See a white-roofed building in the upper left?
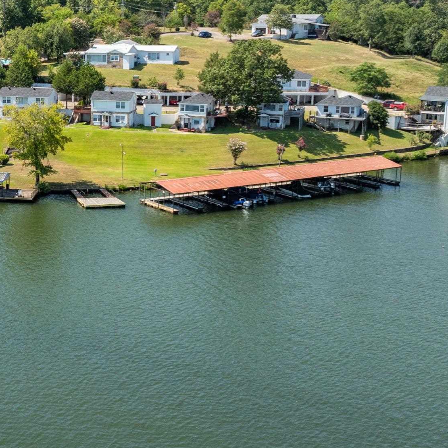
Yes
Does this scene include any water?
Yes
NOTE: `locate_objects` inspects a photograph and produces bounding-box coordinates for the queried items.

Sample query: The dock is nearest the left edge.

[67,187,125,209]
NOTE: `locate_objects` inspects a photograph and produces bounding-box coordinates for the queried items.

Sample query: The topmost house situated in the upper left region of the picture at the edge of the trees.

[60,43,180,70]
